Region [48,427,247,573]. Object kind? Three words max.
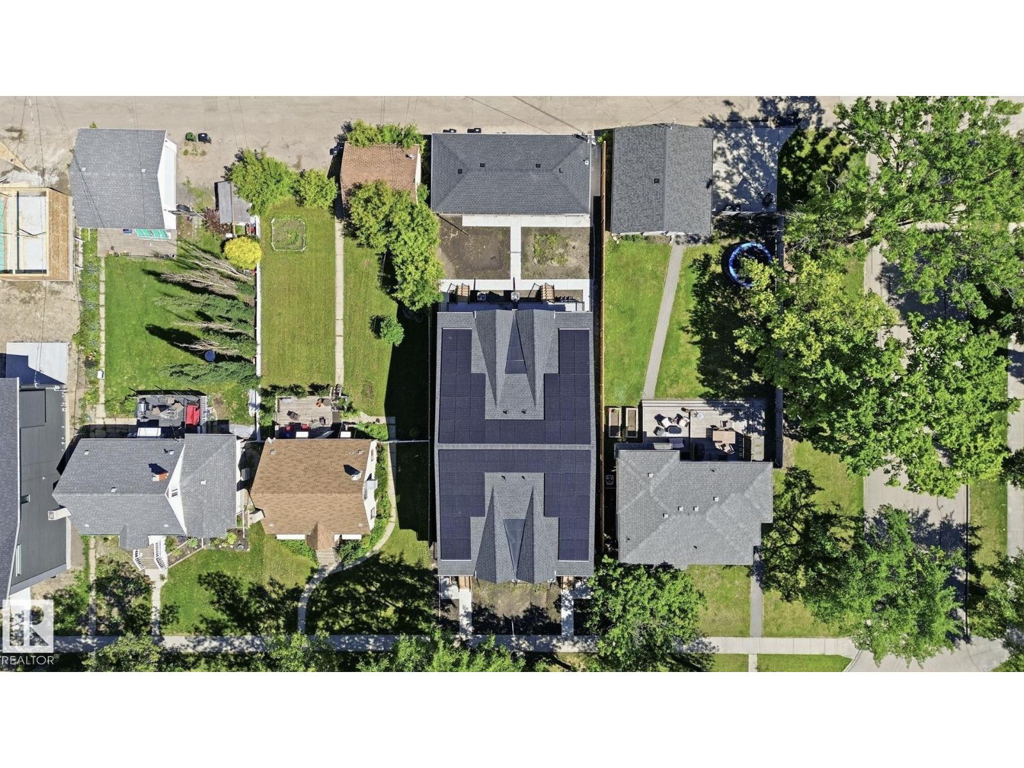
house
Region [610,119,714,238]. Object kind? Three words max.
building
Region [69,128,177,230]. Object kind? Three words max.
building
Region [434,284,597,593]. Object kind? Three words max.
house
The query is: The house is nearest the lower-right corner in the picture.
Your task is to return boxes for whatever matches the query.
[617,443,773,573]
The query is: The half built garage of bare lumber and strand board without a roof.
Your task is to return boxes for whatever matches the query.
[0,186,69,275]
